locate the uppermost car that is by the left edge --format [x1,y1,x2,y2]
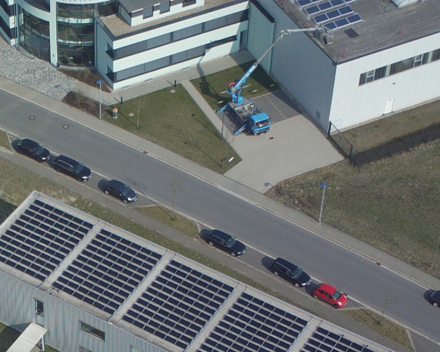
[12,138,52,165]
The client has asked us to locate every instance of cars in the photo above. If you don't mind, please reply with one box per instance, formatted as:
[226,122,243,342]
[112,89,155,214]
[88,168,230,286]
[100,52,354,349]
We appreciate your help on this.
[52,154,93,182]
[12,138,52,165]
[427,290,440,308]
[269,256,313,288]
[311,282,349,311]
[101,178,138,205]
[205,228,247,258]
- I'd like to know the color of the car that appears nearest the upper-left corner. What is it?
black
